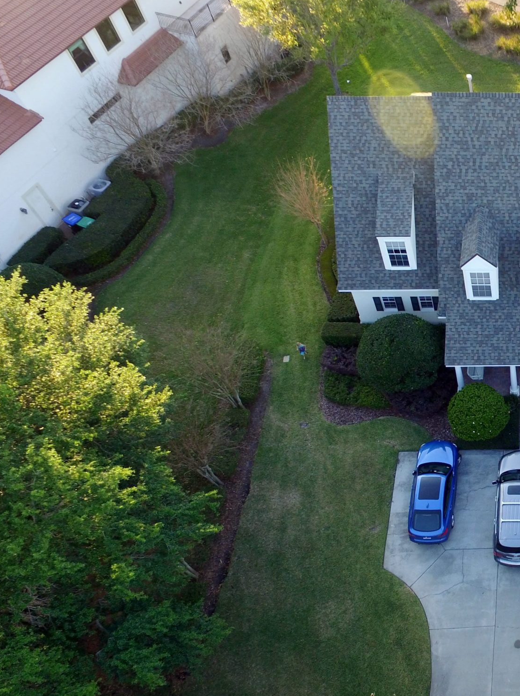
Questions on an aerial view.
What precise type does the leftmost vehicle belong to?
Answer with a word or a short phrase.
automobile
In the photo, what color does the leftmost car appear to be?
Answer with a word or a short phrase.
blue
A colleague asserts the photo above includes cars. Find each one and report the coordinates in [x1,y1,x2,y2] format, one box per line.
[488,451,520,566]
[404,440,462,549]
